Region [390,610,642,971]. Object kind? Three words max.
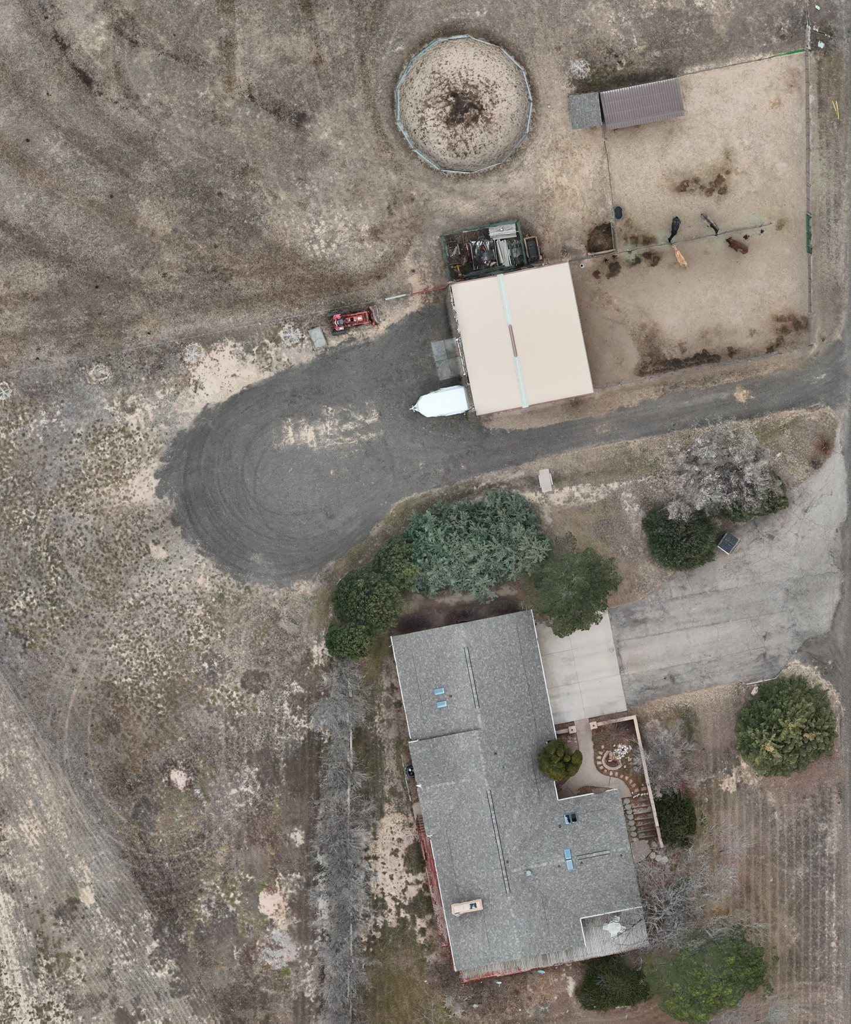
house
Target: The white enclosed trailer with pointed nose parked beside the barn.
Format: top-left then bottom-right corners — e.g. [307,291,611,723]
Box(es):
[410,387,470,418]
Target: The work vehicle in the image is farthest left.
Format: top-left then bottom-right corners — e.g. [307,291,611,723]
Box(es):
[331,309,379,336]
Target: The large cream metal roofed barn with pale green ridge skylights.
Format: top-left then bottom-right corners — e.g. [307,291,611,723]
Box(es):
[450,261,595,416]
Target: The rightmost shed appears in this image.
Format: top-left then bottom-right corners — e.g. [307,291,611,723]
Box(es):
[599,77,685,130]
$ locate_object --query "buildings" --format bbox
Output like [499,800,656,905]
[450,261,595,416]
[390,610,642,971]
[599,77,685,130]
